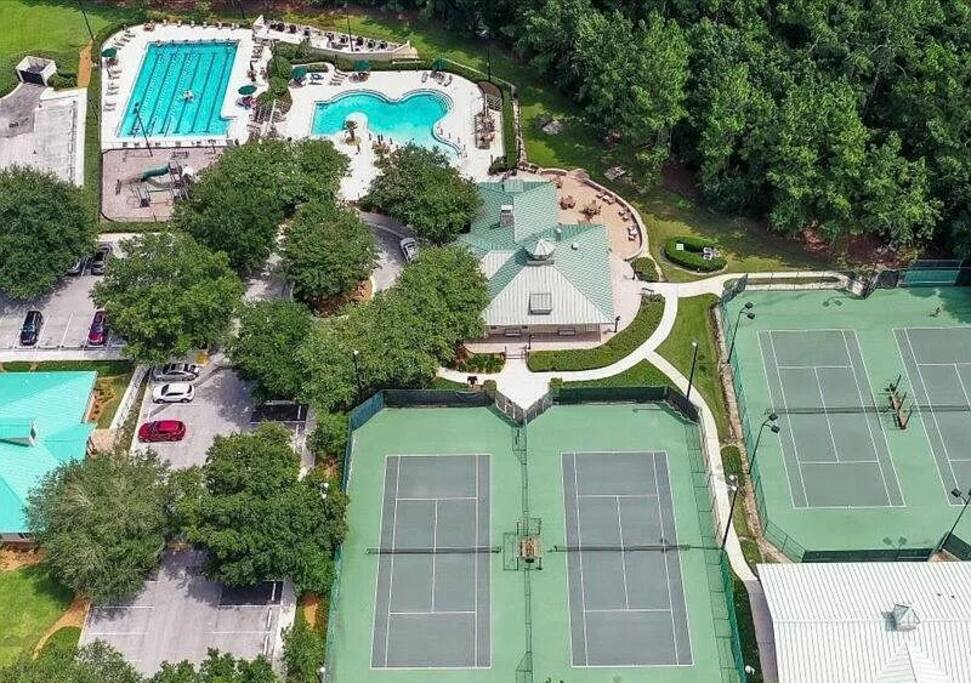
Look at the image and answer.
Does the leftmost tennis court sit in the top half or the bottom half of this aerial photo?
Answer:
bottom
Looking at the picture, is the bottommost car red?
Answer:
Yes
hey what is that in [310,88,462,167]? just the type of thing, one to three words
swimming pool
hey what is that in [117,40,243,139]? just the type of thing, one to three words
swimming pool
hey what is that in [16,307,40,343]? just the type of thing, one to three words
car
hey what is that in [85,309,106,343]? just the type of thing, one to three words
car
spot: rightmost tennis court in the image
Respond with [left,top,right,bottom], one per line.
[875,284,971,553]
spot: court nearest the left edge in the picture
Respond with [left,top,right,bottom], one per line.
[324,407,525,683]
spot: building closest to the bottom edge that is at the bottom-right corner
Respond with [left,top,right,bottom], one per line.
[757,561,971,683]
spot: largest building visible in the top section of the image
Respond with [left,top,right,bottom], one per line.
[461,175,615,342]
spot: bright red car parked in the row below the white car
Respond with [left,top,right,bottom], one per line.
[137,418,184,441]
